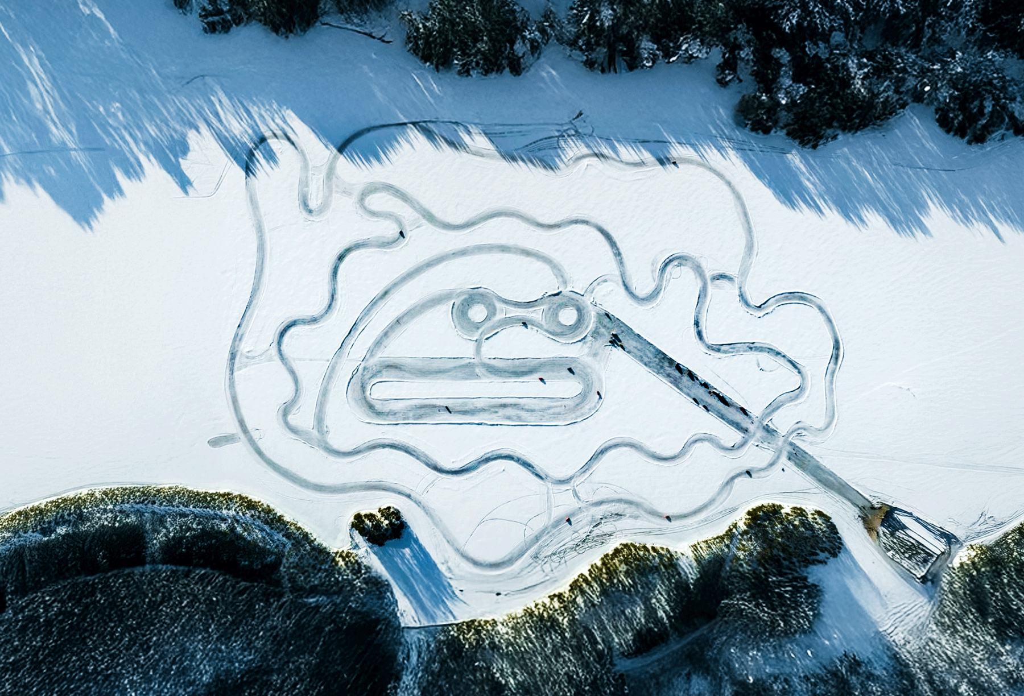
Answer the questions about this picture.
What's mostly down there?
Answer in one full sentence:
For the most part, this view shows water.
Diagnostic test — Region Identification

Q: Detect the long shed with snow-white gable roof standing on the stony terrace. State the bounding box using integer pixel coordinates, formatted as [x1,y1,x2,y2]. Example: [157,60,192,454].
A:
[894,515,946,556]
